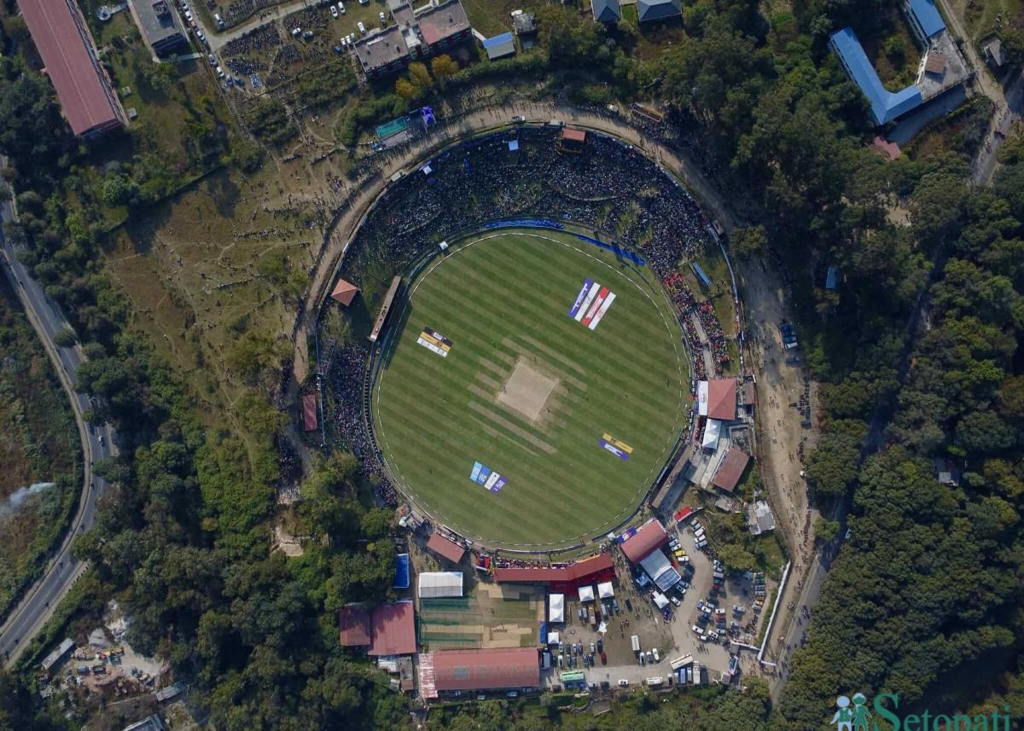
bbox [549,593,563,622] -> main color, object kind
white tent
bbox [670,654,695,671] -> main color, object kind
white vehicle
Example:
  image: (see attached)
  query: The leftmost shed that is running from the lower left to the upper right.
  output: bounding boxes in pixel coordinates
[41,635,78,670]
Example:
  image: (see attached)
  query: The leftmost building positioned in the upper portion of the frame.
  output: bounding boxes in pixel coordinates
[18,0,125,140]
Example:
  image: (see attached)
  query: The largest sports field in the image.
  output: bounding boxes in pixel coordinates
[369,230,696,554]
